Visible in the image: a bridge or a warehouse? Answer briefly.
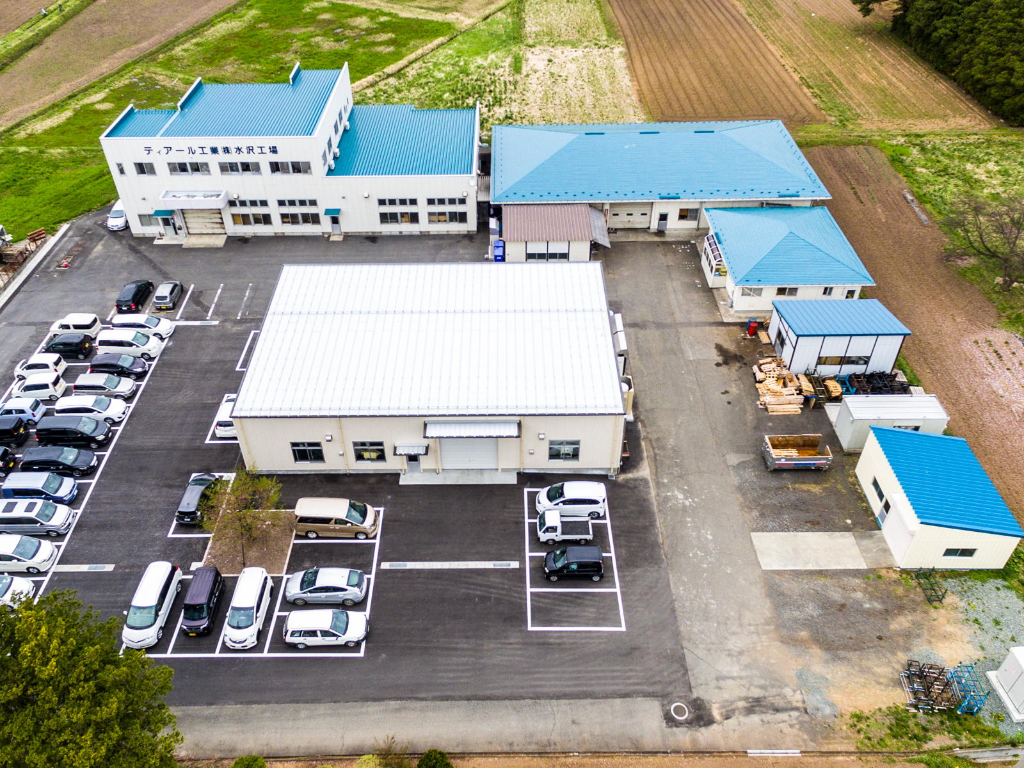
warehouse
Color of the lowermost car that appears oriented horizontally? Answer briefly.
white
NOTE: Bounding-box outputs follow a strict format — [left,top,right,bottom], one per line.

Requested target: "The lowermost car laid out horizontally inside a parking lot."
[278,607,373,649]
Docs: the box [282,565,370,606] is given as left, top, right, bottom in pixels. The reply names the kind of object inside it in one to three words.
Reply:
car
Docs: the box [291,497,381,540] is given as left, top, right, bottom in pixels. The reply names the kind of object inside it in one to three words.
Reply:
car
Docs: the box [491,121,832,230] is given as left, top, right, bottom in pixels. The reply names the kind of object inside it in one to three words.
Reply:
building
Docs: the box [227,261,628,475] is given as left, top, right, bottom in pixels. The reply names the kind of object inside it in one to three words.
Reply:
warehouse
